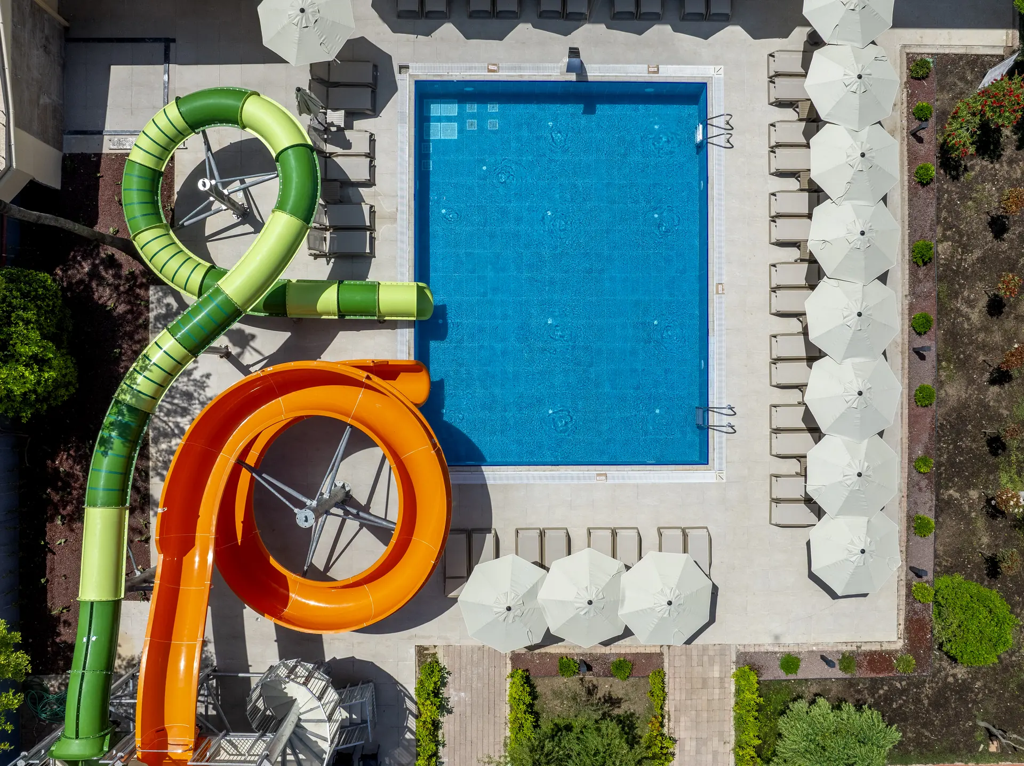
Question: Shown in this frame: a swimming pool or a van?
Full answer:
Visible in the photo is a swimming pool.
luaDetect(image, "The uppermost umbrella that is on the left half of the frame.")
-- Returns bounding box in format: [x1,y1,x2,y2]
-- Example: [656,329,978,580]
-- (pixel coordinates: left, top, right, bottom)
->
[261,0,355,66]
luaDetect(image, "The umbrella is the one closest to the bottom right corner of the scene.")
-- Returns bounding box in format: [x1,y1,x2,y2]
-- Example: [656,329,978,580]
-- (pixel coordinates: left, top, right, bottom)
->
[806,508,899,592]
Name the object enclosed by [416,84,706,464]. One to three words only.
swimming pool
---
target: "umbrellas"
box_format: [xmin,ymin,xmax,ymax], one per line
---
[805,0,894,54]
[806,508,899,592]
[460,552,550,649]
[803,353,899,437]
[805,430,894,512]
[295,86,335,133]
[623,549,711,642]
[803,43,898,126]
[808,118,897,200]
[804,195,900,277]
[544,546,630,643]
[804,274,897,359]
[261,0,355,66]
